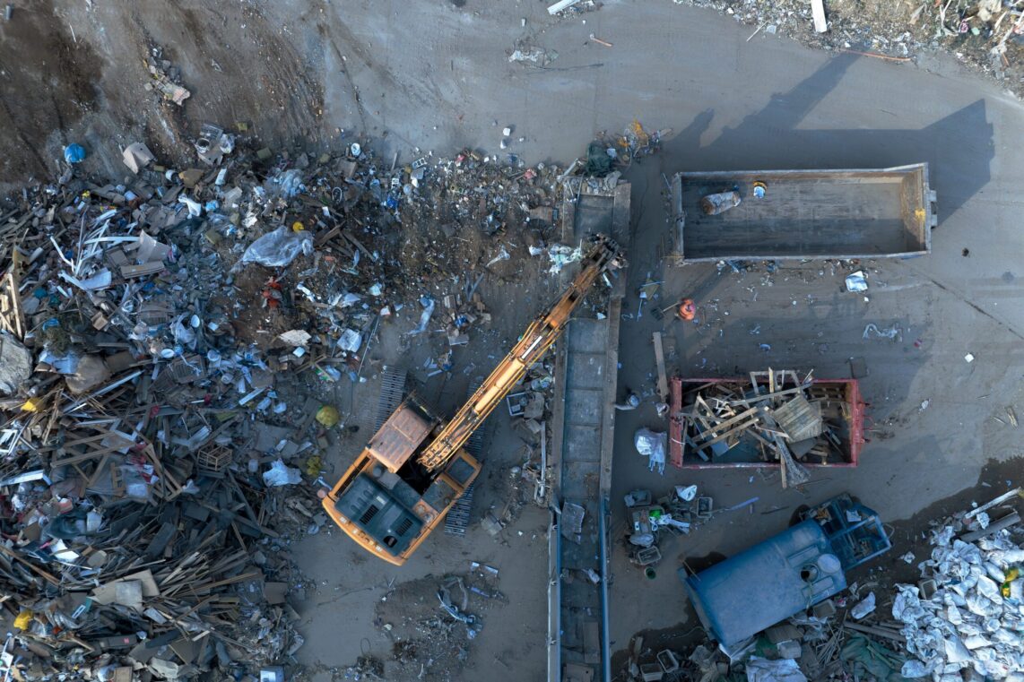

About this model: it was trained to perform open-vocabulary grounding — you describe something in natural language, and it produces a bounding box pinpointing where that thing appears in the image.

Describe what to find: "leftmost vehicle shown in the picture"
[322,227,630,567]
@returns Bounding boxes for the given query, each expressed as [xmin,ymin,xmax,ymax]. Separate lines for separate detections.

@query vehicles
[673,487,897,647]
[322,227,630,567]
